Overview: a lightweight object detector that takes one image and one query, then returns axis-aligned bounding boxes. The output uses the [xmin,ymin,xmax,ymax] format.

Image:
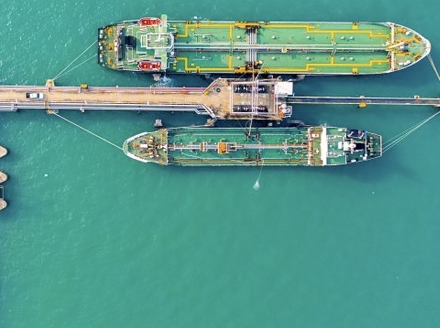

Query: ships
[98,14,431,76]
[124,127,381,166]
